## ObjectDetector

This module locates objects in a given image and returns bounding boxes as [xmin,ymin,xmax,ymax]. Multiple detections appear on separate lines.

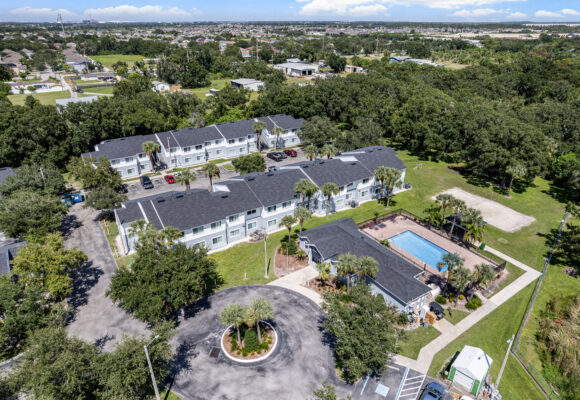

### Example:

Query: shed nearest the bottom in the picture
[448,344,494,395]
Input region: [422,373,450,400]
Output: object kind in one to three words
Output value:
car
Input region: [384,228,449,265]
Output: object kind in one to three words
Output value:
swimming pool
